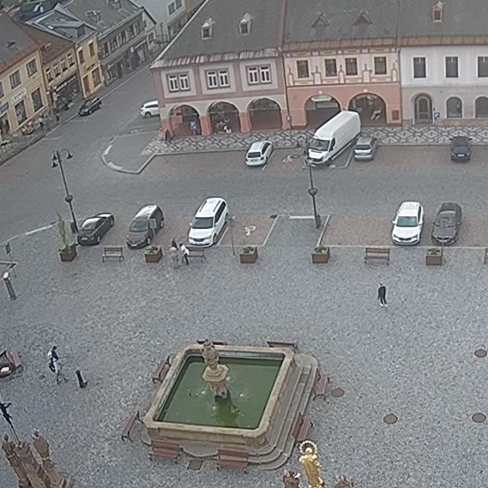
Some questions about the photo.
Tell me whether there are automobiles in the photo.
Yes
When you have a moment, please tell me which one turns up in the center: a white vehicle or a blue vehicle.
white vehicle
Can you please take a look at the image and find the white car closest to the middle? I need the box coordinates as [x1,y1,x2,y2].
[187,198,232,245]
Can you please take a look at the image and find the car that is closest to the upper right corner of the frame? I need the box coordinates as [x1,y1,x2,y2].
[449,137,472,163]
